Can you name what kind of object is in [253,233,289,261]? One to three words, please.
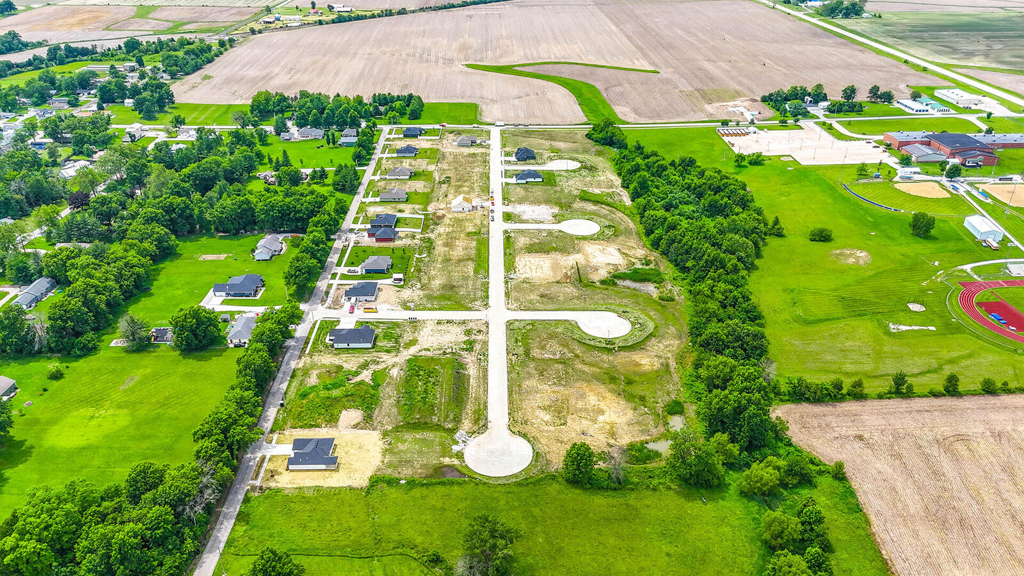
house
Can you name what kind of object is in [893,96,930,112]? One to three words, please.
building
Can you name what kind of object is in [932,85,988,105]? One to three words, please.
building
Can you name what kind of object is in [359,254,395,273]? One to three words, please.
house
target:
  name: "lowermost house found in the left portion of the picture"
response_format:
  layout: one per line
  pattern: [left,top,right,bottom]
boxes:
[285,435,341,471]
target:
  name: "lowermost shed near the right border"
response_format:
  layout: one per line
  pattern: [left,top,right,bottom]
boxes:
[959,214,1005,241]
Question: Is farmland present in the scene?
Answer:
Yes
